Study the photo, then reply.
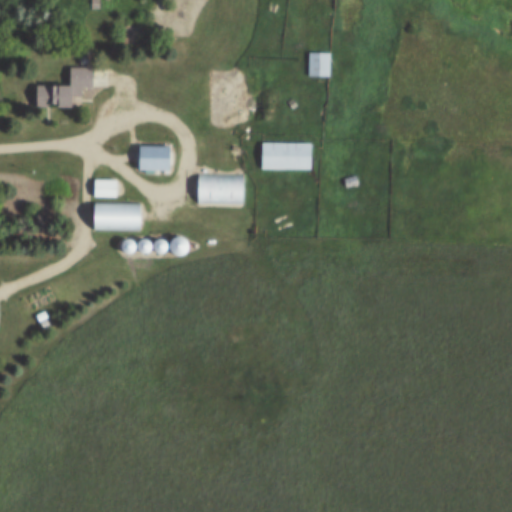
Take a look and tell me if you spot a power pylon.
No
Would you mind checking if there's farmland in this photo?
Yes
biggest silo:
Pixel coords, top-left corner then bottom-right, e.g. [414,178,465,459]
[170,236,190,256]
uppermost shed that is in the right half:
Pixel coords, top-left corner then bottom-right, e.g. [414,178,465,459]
[309,52,332,78]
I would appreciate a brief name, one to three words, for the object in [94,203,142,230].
shed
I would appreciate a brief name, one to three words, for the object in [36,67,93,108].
house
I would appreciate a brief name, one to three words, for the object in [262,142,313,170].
shed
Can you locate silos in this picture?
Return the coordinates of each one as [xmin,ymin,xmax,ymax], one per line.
[122,238,137,254]
[138,238,154,254]
[154,238,170,254]
[170,236,190,256]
